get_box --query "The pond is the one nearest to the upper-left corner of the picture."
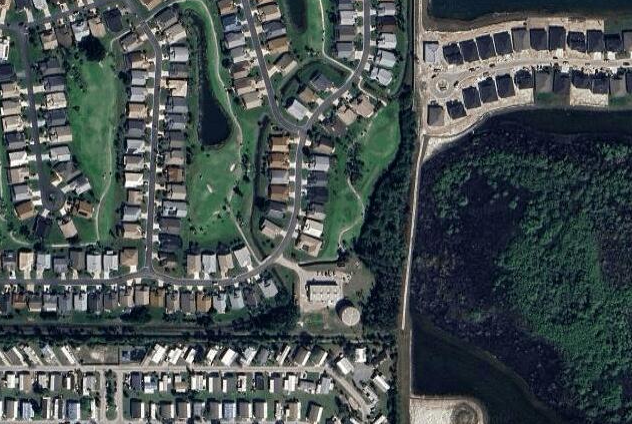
[192,12,230,145]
